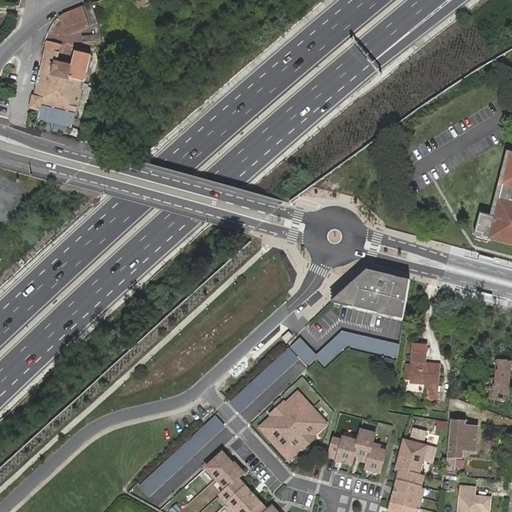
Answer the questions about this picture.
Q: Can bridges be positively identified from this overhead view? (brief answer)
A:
Yes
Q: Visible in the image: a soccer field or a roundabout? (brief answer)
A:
roundabout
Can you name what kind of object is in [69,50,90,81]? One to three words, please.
house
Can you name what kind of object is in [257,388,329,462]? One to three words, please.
house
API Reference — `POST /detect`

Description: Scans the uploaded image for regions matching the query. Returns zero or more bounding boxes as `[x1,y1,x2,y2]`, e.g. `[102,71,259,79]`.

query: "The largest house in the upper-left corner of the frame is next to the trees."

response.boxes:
[28,40,83,110]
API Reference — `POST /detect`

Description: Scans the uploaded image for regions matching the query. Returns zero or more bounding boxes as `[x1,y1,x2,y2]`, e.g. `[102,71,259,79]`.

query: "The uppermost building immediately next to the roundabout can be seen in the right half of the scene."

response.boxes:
[332,268,411,323]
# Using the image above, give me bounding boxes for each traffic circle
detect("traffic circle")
[303,206,366,268]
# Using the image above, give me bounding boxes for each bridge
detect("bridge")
[89,160,256,230]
